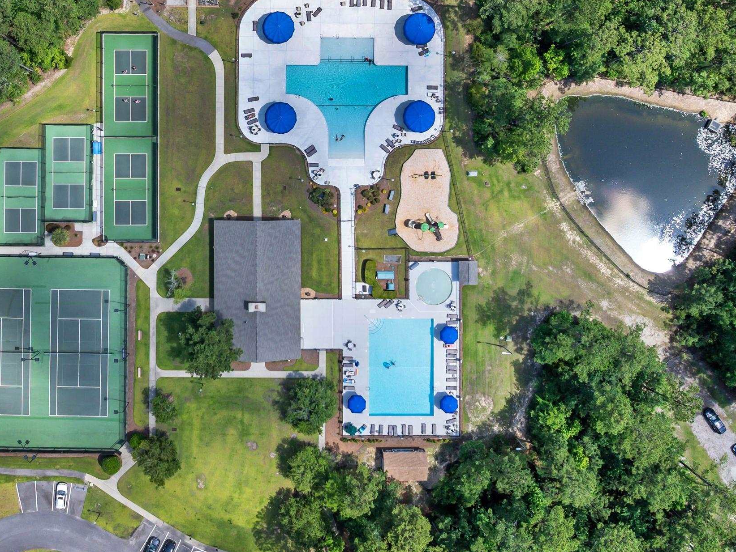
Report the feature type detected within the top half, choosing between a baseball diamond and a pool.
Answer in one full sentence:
What appears within the top half is a pool.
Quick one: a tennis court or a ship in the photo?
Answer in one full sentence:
It is a tennis court that can be seen here.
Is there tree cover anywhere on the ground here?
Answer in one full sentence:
Yes, there is tree cover in the image.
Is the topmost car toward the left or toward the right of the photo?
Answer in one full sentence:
The topmost car appears in the right half of the scene.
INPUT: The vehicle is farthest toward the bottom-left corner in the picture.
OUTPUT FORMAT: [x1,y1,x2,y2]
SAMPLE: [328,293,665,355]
[55,482,69,508]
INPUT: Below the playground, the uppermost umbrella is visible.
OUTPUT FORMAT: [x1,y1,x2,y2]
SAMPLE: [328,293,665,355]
[440,327,457,343]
